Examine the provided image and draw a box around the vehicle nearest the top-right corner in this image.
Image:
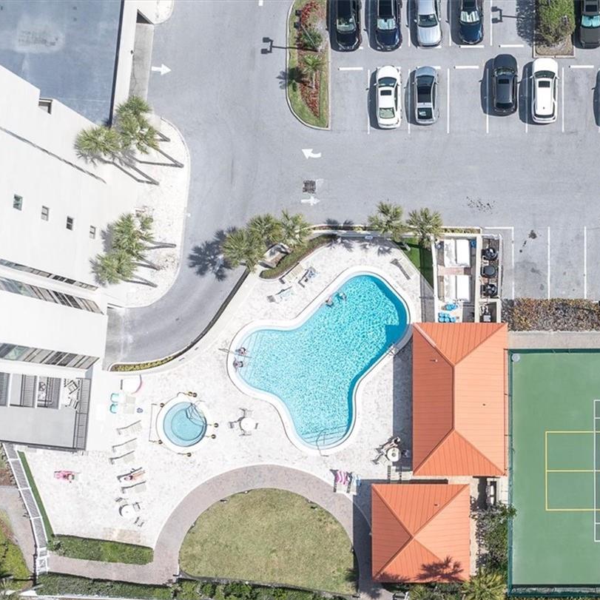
[577,0,600,52]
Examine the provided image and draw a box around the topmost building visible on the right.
[413,323,508,476]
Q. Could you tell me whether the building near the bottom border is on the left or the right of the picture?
right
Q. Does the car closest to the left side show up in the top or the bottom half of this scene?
top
